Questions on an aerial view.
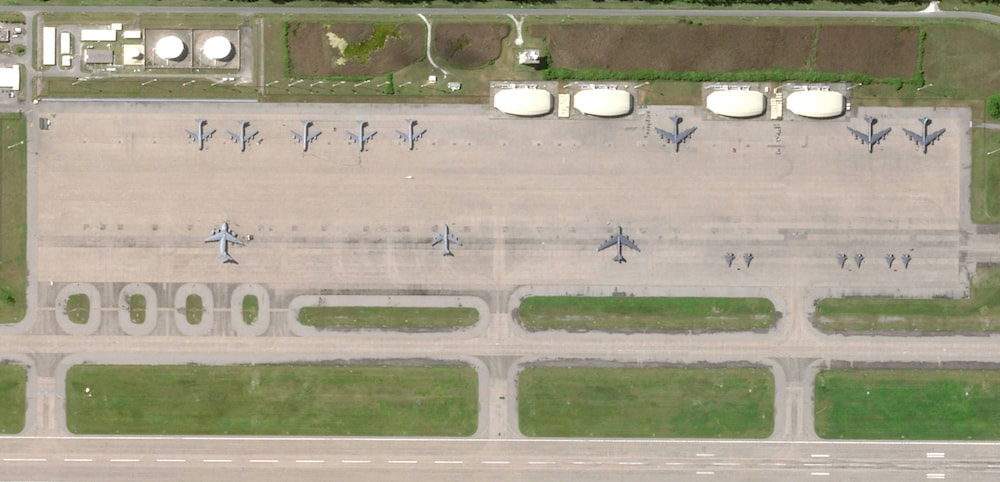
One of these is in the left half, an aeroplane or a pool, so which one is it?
aeroplane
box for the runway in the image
[0,435,1000,482]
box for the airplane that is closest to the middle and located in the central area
[432,223,463,254]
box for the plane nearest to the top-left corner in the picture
[187,119,217,150]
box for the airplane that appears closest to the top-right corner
[905,116,946,152]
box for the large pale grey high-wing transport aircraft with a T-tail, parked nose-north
[206,222,247,262]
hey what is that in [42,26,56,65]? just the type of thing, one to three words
building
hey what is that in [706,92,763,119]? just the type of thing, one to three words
hangar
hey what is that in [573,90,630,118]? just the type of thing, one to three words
hangar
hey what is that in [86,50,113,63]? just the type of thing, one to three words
building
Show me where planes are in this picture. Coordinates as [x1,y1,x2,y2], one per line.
[855,254,865,267]
[887,254,896,267]
[905,116,946,152]
[727,253,736,266]
[903,255,913,266]
[852,116,893,152]
[187,119,217,150]
[839,254,849,267]
[229,120,259,151]
[348,120,378,151]
[396,119,428,150]
[206,222,247,262]
[292,120,322,151]
[432,223,463,254]
[745,253,755,264]
[601,226,642,262]
[657,114,698,151]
